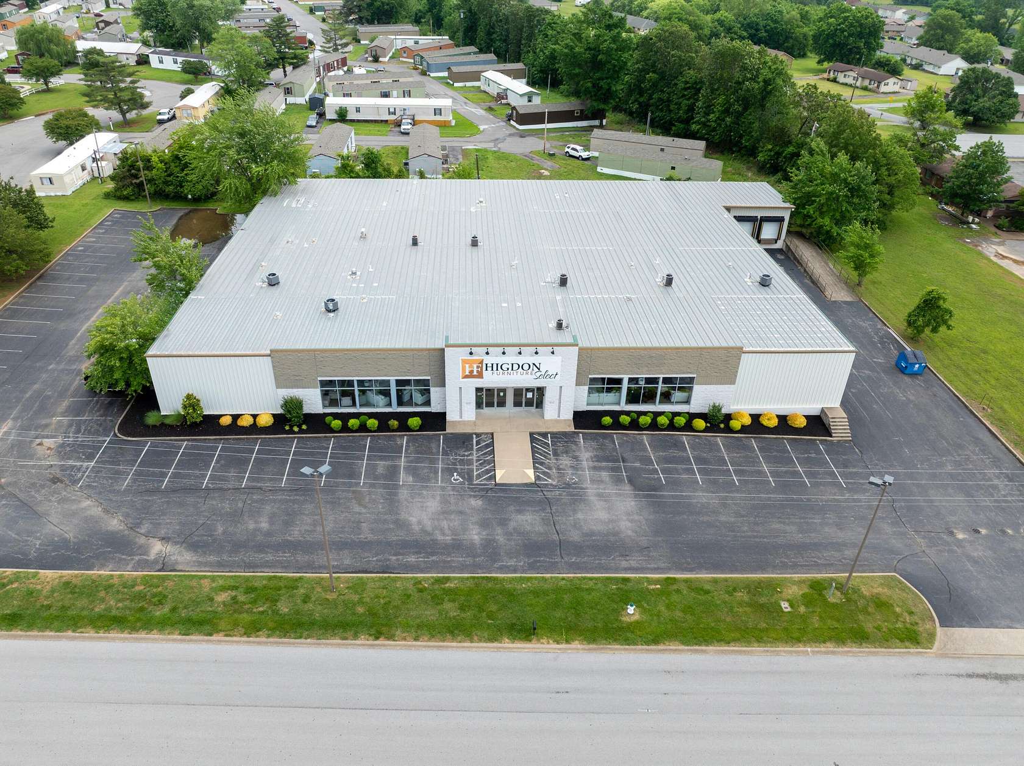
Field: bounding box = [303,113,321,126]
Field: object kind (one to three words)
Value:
vehicle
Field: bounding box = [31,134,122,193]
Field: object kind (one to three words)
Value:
house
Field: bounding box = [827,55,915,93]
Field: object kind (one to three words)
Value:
house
